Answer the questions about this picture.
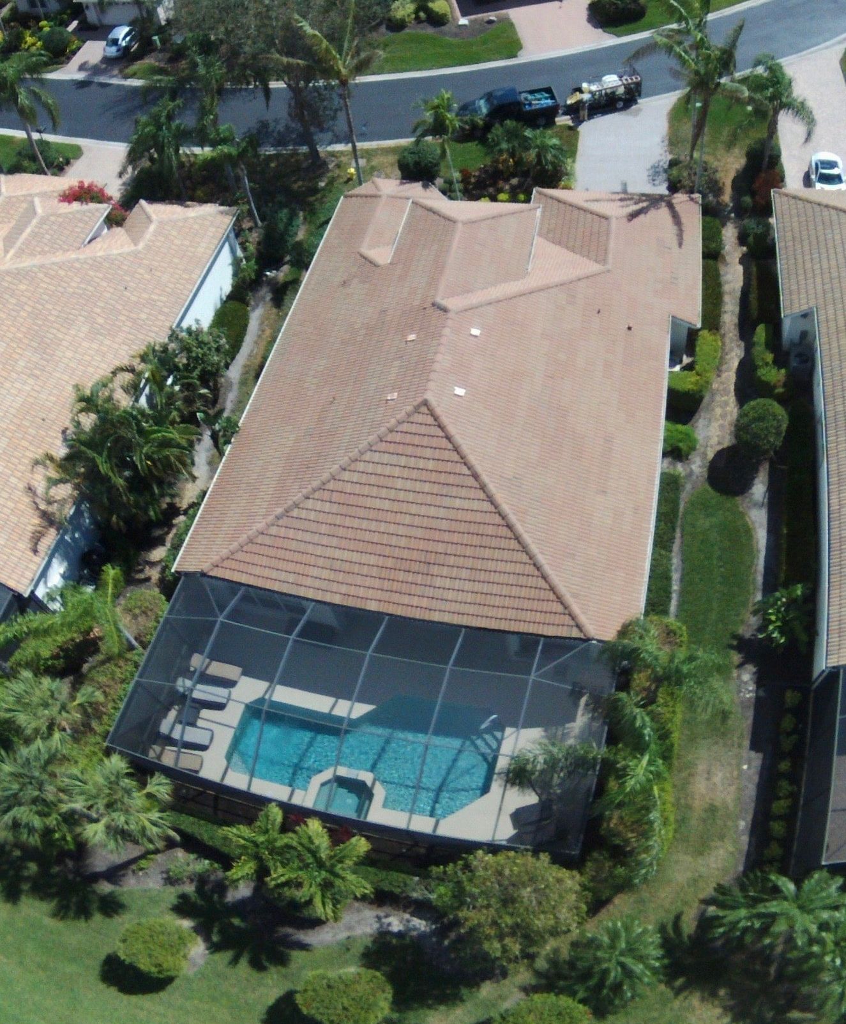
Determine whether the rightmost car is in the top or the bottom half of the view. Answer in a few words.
top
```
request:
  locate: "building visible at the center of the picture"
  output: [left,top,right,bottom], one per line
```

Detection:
[169,177,708,667]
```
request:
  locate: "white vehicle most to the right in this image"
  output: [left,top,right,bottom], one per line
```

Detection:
[803,147,846,197]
